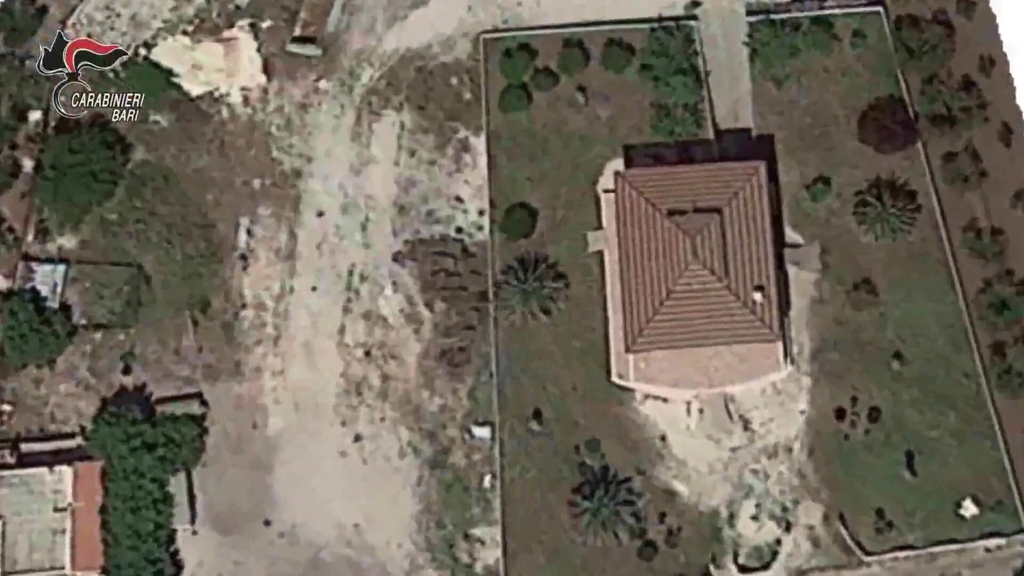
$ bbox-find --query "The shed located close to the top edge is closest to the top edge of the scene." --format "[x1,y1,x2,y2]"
[293,0,331,39]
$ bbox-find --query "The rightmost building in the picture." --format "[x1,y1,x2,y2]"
[587,160,817,398]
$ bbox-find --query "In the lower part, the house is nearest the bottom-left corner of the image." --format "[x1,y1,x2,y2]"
[0,461,104,576]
